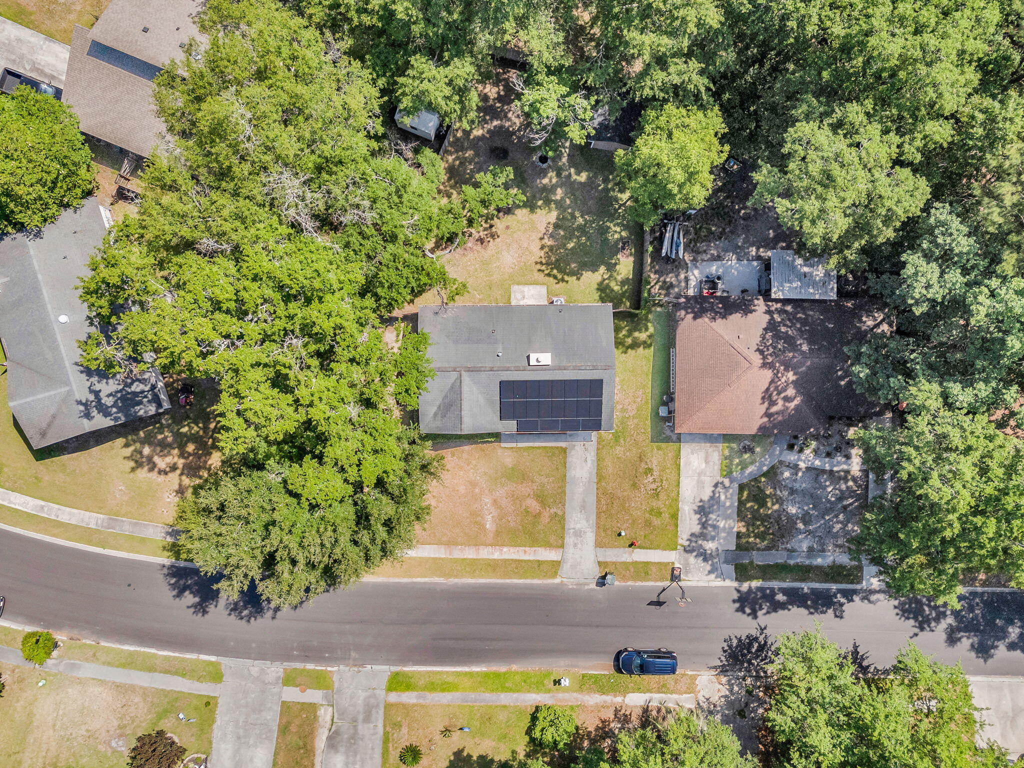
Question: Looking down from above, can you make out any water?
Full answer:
No, no water is visible.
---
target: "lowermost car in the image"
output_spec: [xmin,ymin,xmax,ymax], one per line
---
[613,647,677,679]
